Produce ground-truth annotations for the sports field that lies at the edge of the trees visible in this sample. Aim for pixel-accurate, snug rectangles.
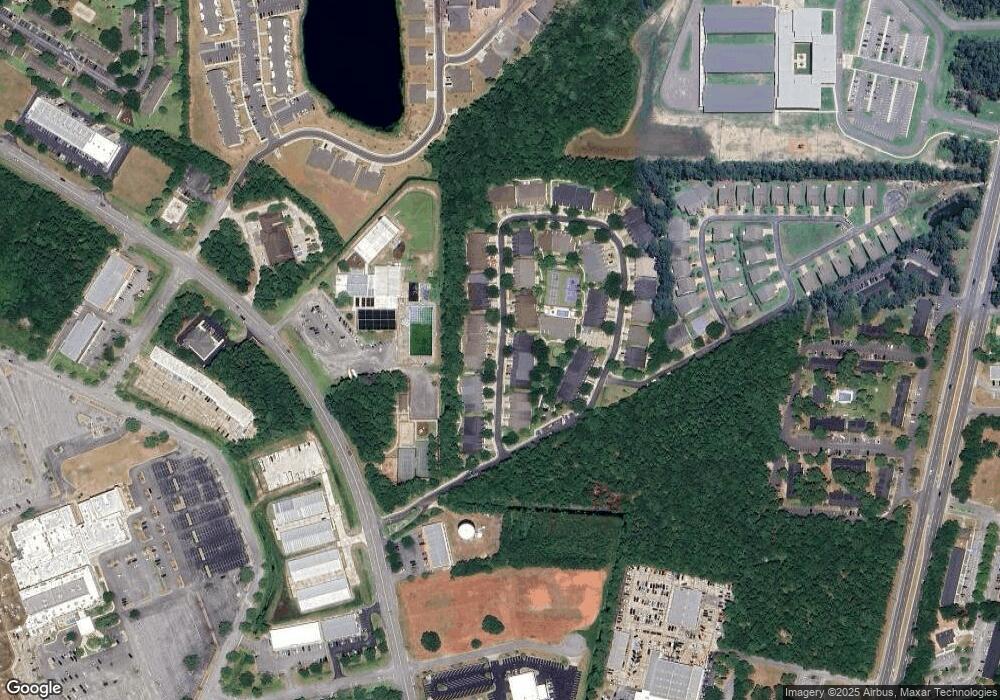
[386,185,438,268]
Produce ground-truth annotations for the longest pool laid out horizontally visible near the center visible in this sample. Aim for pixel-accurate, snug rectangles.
[544,306,570,318]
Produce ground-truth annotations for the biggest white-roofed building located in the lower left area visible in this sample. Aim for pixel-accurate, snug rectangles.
[10,488,131,635]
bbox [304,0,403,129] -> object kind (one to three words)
pond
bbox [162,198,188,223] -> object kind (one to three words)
house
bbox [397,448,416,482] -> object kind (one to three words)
tennis court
